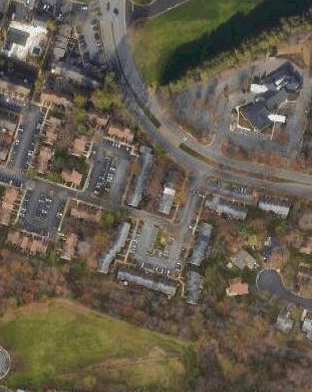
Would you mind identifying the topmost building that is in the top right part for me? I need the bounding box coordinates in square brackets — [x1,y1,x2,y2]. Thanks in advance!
[242,61,301,131]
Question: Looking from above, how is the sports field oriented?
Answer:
from left to right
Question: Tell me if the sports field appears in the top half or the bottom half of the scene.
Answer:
bottom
